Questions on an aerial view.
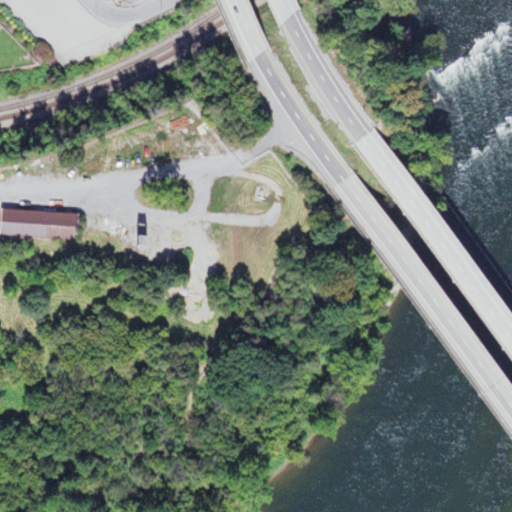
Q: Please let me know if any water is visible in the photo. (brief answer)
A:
Yes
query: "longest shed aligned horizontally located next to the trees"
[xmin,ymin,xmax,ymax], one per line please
[1,208,78,240]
